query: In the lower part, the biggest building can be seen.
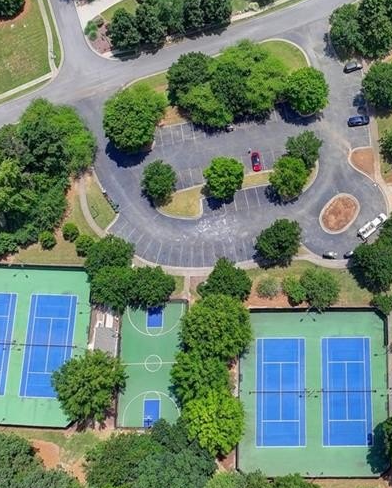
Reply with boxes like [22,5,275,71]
[94,327,118,356]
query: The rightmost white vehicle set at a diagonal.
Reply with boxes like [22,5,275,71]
[357,214,386,240]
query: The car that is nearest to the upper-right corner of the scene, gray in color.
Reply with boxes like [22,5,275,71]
[342,61,363,73]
